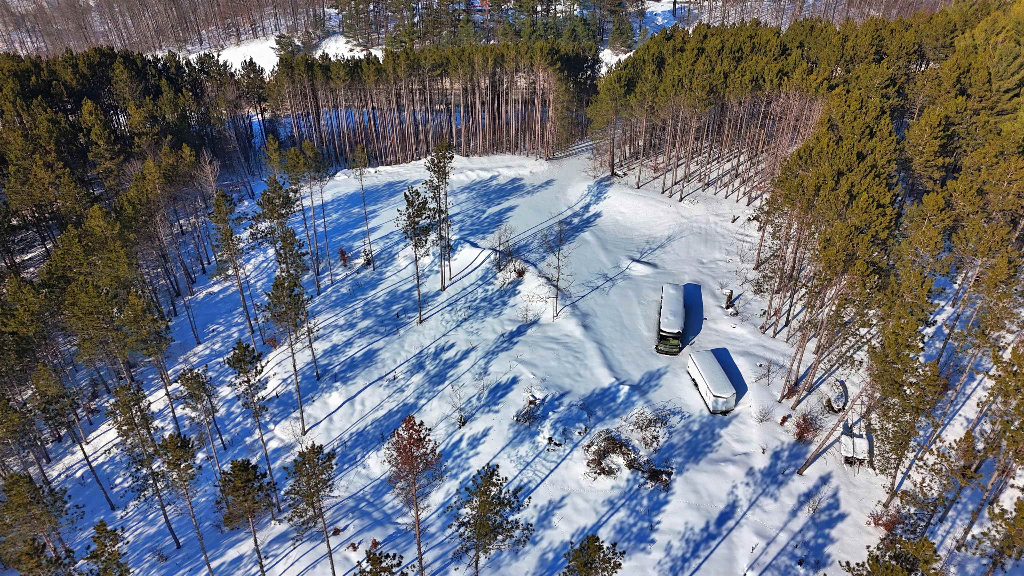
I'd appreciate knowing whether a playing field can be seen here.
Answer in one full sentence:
No, the photo shows no playing field.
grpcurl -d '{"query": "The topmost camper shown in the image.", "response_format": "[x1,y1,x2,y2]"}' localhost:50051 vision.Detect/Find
[655,285,686,355]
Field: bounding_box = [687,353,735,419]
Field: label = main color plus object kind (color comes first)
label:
white trailer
